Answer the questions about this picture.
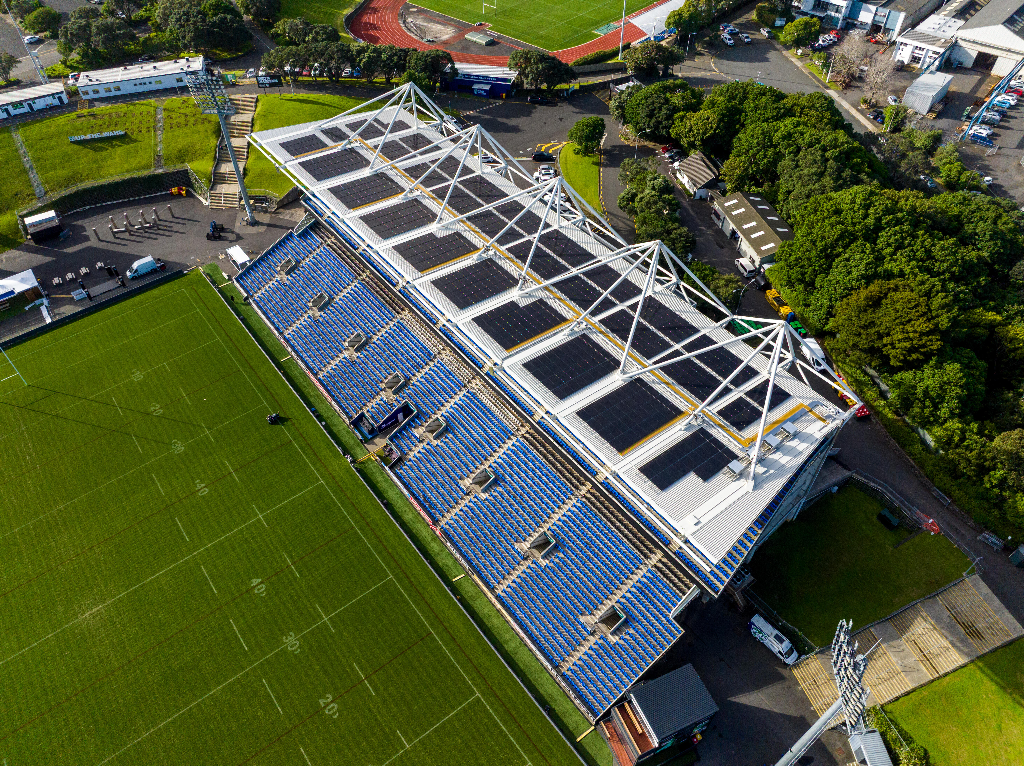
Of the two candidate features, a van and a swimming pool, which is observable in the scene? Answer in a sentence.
Visible in the photo is a van.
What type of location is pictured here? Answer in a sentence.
This image shows a sports ground.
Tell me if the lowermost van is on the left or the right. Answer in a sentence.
The lowermost van is on the right side of the image.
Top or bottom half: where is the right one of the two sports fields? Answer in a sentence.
Seen from above, the right one of the two sports fields lies in the top half of the view.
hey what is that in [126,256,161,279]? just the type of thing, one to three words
vehicle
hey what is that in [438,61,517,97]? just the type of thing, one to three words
building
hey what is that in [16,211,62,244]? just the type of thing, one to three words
shed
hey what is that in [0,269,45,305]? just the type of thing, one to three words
tent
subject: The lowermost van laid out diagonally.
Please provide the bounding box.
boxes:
[742,611,799,665]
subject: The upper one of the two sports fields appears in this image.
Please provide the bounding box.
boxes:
[408,0,663,50]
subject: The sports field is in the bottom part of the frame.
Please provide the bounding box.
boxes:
[0,268,578,766]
